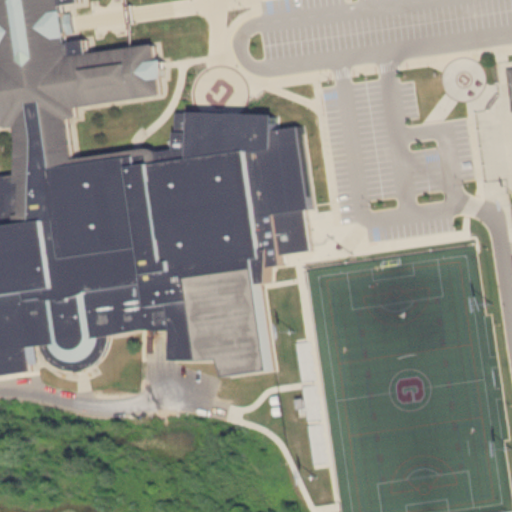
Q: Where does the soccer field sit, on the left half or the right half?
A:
right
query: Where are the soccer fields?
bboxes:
[308,244,512,512]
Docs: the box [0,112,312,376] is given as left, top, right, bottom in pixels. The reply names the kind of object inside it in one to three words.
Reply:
building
